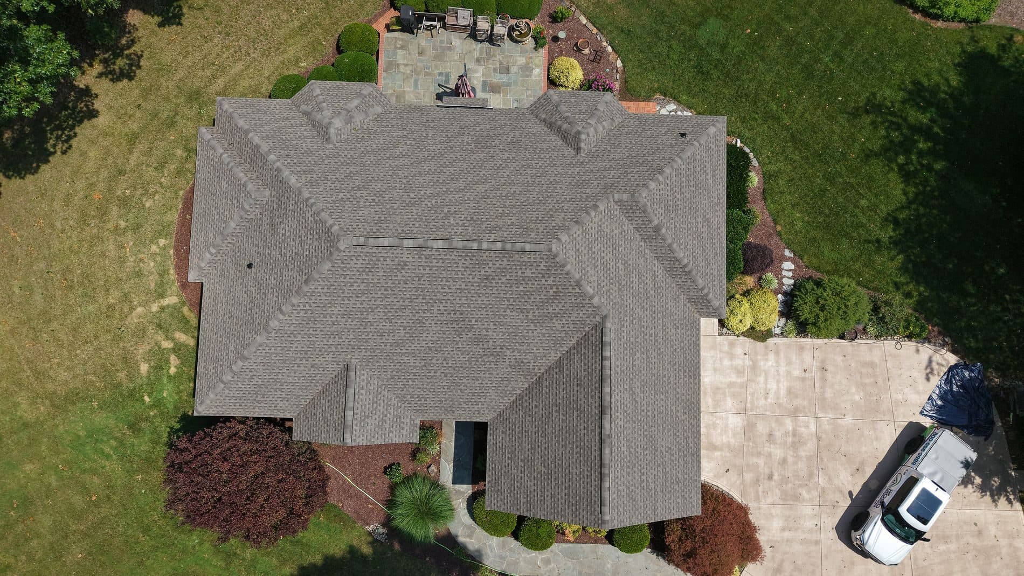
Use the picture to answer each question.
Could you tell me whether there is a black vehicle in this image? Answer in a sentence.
No, there's no black vehicle here.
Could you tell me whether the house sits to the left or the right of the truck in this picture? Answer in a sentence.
The house is to the left of the truck.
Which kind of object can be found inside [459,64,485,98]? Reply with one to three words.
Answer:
umbrella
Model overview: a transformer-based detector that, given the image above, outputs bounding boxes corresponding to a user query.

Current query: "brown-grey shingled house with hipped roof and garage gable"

[187,80,728,530]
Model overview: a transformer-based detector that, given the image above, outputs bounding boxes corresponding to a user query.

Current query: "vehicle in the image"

[853,418,979,569]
